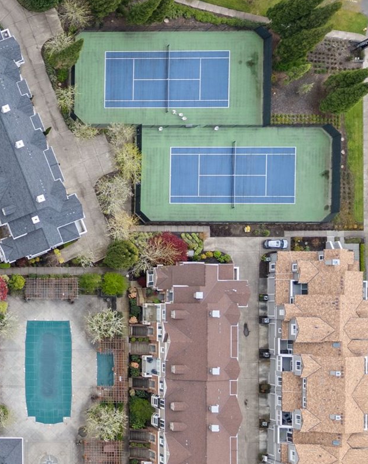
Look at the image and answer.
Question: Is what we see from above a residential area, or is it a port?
residential area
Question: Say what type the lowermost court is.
tennis court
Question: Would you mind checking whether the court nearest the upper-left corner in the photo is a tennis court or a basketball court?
tennis court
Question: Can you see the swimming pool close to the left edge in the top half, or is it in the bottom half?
bottom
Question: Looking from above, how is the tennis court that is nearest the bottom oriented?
from left to right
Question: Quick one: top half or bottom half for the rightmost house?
bottom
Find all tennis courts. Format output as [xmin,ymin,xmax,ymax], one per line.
[141,122,342,222]
[75,25,272,126]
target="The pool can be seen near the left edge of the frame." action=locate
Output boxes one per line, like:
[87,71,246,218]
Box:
[0,295,127,464]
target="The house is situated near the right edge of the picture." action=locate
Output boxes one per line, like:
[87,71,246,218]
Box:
[258,239,368,464]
